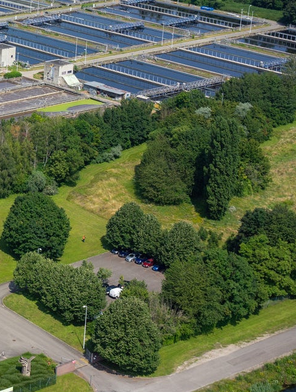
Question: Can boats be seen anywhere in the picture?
No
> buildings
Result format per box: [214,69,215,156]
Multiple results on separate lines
[85,82,127,96]
[46,58,82,84]
[0,42,17,64]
